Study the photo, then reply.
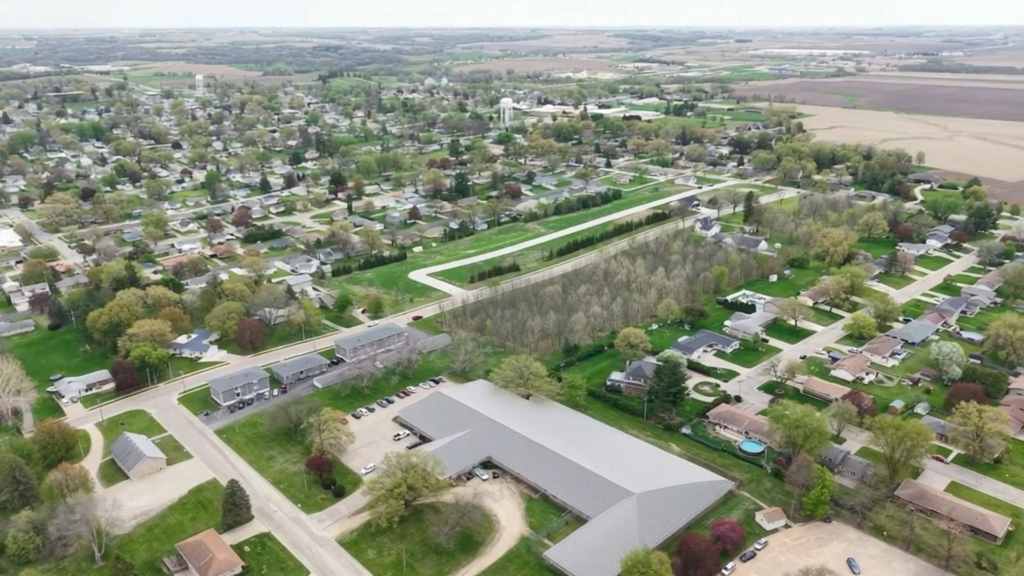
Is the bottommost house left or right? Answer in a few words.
left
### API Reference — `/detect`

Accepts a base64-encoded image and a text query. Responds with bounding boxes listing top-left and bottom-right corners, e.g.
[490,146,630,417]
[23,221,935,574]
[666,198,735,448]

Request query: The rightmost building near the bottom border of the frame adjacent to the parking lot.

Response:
[397,379,733,576]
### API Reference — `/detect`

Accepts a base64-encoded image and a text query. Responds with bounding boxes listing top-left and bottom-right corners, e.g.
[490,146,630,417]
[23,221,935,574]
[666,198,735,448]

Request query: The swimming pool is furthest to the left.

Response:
[736,438,765,457]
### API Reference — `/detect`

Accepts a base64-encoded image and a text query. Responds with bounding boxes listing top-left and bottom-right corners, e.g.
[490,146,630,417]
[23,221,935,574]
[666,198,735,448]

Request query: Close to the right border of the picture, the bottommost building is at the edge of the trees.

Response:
[894,481,1007,547]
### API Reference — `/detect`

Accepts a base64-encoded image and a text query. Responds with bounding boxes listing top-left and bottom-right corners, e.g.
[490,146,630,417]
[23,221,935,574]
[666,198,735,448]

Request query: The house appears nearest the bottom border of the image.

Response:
[185,524,243,576]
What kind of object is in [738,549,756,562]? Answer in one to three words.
vehicle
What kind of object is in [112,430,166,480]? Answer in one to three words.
building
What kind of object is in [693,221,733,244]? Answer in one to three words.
house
